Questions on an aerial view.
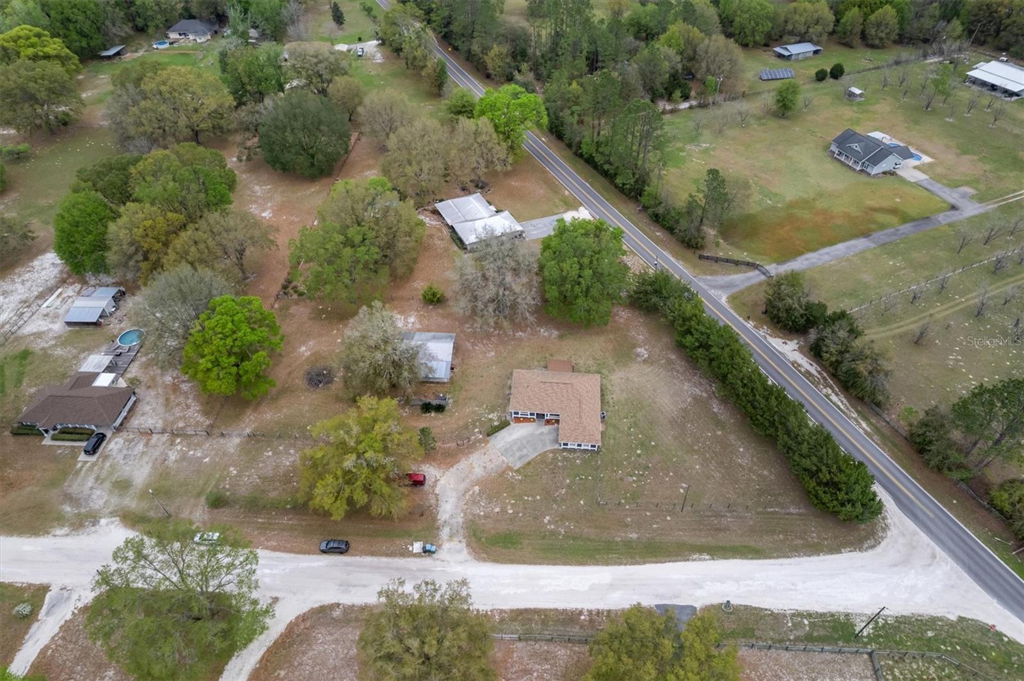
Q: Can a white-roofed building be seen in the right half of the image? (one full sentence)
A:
Yes, you'll find a white-roofed building in the right half of the image.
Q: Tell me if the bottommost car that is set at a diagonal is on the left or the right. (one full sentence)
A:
It is on the left.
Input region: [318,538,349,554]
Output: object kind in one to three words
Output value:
car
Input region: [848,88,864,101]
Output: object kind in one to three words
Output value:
gazebo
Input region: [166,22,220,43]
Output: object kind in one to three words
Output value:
house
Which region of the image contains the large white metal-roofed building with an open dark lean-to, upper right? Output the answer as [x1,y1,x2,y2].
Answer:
[963,58,1024,103]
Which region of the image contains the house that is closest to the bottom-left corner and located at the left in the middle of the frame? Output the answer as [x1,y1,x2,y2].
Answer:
[18,367,140,436]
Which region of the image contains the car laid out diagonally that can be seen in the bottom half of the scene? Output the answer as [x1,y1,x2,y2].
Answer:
[80,433,107,456]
